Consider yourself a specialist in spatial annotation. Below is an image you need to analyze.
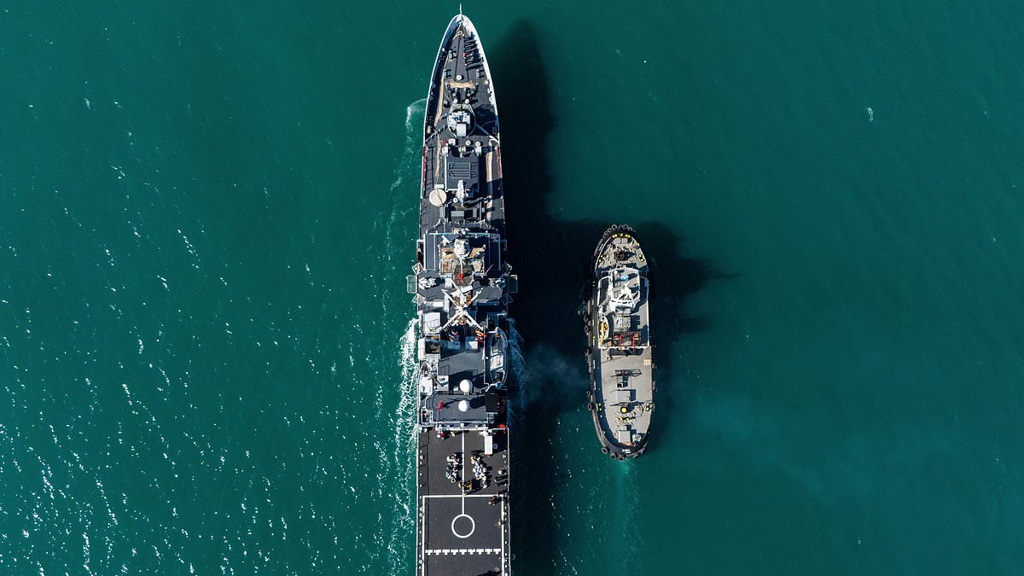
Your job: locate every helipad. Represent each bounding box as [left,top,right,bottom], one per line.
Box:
[416,430,511,576]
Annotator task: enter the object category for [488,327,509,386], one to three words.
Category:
boat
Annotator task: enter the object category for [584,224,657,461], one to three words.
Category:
boat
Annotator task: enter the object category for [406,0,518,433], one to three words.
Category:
ship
